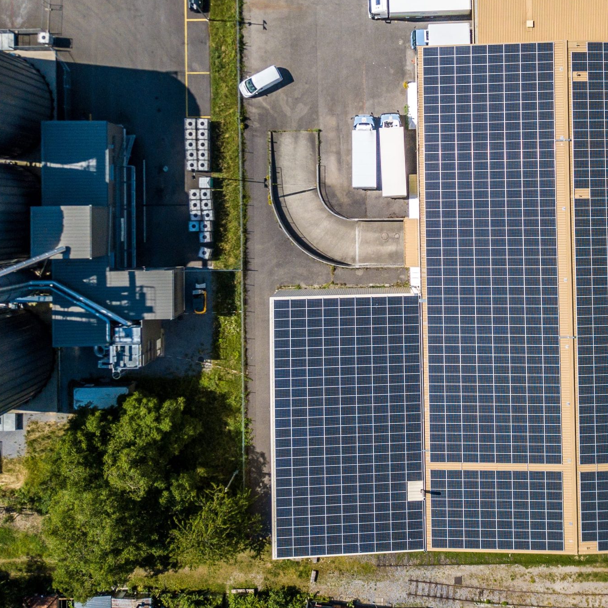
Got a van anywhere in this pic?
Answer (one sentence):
Yes, there's a van down there.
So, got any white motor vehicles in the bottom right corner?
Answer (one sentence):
No, looking in the bottom right corner, there is no white motor vehicle.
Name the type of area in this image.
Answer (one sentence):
The picture captures an industrial area.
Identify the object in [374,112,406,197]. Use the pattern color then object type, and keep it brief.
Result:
white truck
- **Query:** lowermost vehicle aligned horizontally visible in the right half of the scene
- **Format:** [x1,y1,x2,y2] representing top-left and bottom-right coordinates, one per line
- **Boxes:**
[408,23,470,54]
